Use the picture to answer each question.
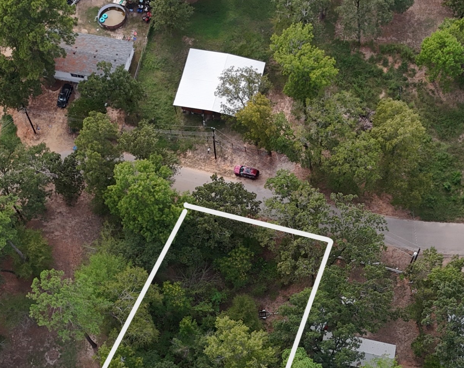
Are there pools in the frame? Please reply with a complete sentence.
Yes, the picture does show a pool.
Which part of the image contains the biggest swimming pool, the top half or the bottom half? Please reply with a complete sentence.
Seen from above, the biggest swimming pool lies in the top half of the view.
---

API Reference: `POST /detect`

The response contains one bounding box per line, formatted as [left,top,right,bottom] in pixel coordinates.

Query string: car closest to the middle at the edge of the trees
[231,164,261,180]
